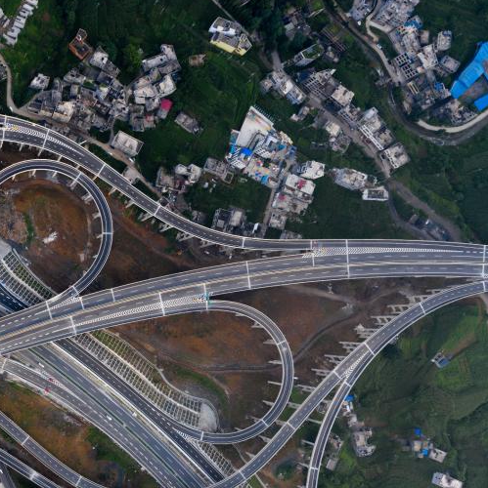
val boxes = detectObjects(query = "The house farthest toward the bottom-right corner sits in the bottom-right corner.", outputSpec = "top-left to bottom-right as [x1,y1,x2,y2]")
[433,473,464,488]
